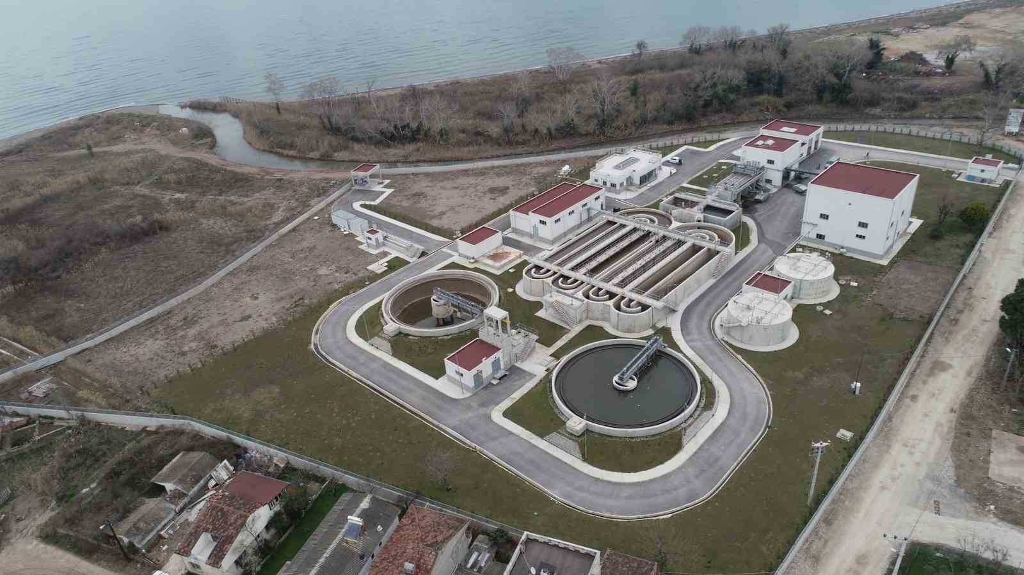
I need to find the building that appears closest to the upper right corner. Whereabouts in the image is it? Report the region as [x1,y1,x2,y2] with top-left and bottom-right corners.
[965,157,1003,180]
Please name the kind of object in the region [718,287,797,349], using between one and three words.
storage tank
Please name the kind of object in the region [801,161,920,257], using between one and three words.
building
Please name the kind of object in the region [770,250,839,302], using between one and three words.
storage tank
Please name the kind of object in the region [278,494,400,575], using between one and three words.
house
